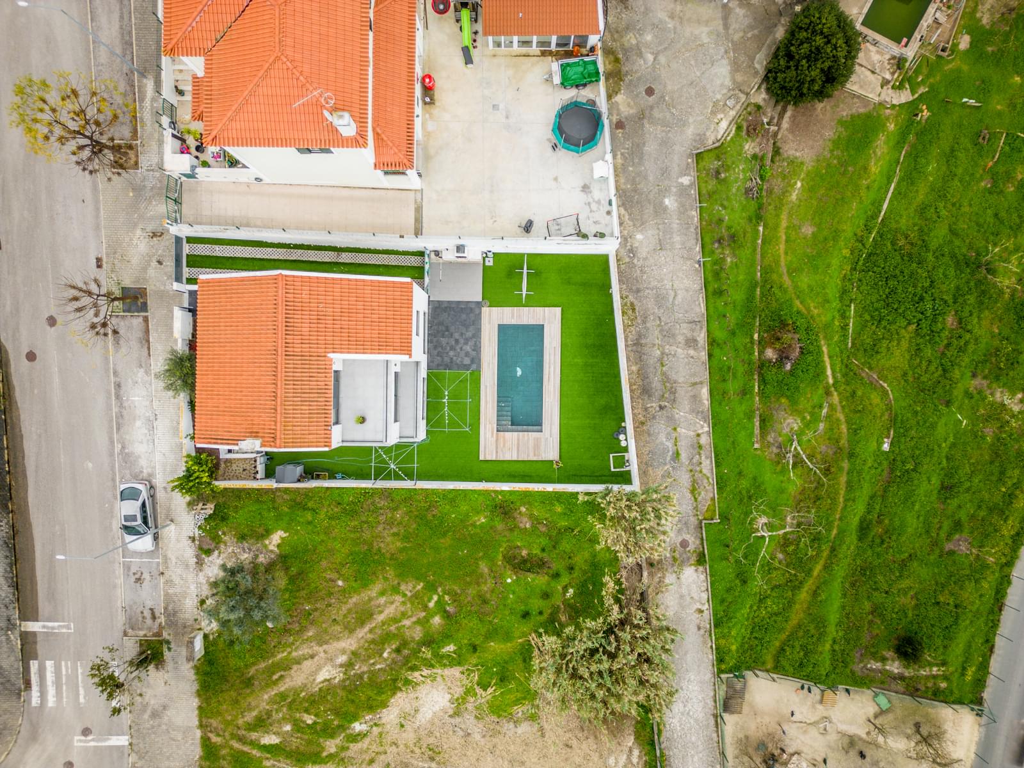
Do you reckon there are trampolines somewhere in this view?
Yes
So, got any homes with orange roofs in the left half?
Yes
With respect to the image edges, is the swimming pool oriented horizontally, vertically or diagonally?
vertically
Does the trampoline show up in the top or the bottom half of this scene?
top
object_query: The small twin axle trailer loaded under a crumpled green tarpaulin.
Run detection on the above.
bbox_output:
[543,57,600,90]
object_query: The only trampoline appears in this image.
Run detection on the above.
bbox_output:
[554,90,605,155]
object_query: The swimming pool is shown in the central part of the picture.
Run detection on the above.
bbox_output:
[481,307,561,460]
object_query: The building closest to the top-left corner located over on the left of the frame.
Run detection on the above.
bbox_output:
[160,0,422,188]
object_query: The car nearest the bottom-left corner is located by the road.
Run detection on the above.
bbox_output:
[116,483,153,552]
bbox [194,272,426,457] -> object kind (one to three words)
house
